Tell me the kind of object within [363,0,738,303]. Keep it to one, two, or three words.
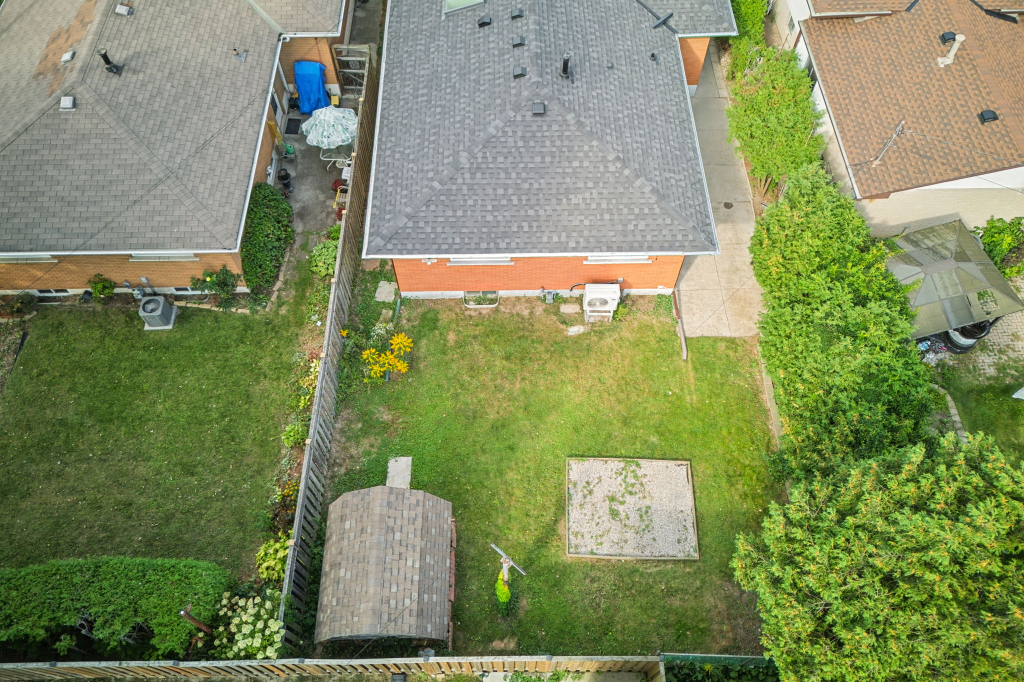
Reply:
house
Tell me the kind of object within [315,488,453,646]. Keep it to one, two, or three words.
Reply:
shed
